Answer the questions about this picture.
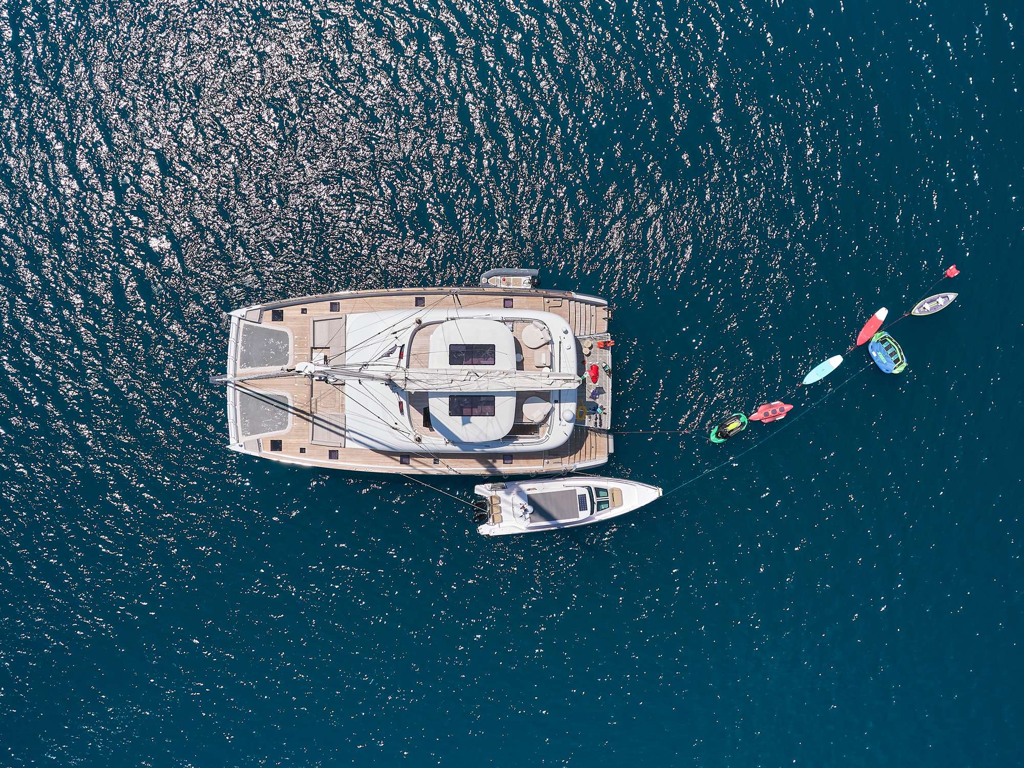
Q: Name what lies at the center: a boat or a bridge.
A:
boat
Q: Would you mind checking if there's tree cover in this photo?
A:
No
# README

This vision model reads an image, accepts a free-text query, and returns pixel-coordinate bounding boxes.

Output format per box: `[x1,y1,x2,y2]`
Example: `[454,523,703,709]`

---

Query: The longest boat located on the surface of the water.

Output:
[209,288,614,474]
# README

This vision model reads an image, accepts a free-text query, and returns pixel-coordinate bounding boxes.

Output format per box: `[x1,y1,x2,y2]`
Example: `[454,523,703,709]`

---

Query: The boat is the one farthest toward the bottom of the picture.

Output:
[473,476,663,536]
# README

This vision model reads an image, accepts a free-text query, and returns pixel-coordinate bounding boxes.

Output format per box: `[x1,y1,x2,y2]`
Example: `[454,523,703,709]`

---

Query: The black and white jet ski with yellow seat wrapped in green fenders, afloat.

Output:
[708,411,750,444]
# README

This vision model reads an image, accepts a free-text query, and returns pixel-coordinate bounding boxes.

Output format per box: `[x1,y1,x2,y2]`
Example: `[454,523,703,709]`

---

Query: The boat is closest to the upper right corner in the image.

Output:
[911,293,957,315]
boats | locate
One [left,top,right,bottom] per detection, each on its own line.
[911,293,957,315]
[708,411,750,444]
[480,268,540,289]
[209,288,614,474]
[473,476,663,536]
